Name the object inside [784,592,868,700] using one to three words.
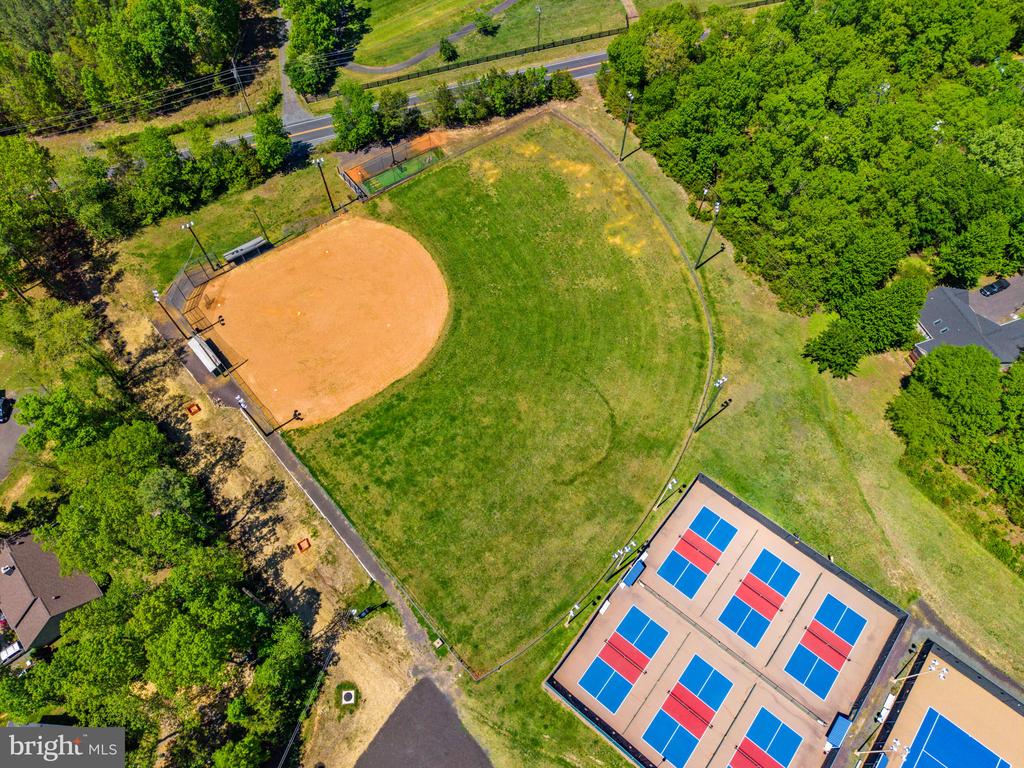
sports court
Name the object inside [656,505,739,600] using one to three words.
sports court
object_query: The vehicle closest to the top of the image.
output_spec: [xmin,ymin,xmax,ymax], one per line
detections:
[980,280,1010,296]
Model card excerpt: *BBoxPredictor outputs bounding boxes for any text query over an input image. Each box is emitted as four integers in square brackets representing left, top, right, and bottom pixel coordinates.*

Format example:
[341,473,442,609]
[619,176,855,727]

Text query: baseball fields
[184,109,714,682]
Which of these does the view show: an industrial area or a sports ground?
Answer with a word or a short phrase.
sports ground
